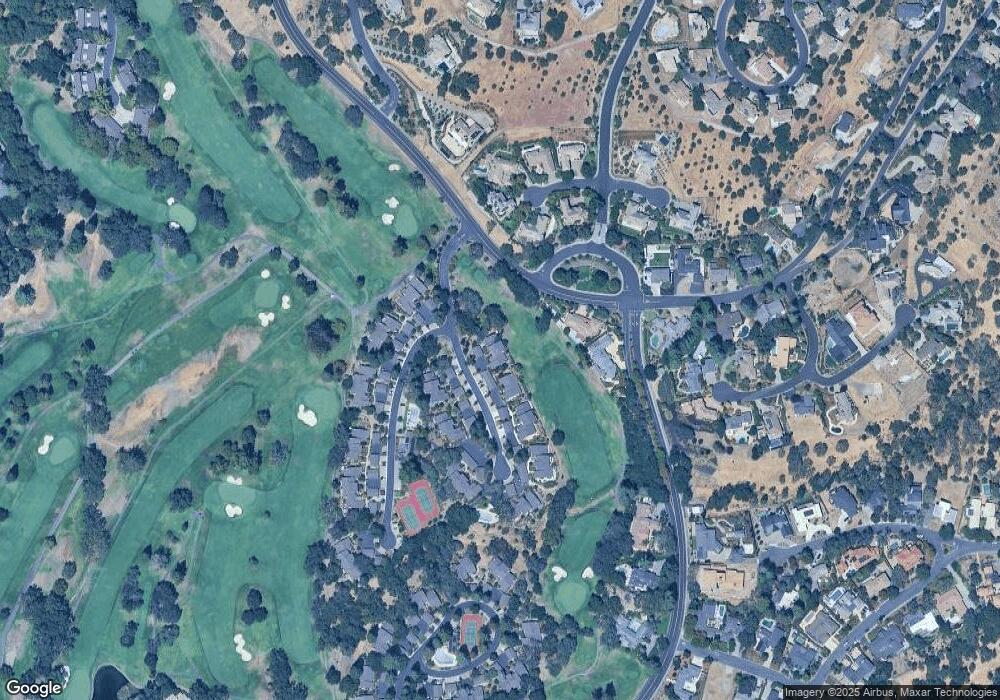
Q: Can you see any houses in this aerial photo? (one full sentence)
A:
Yes, the frame does contain a house.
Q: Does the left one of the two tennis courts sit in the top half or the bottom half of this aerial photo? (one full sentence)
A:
It is in the bottom half that the left one of the two tennis courts appears.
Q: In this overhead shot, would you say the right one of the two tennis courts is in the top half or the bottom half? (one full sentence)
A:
The bottom half of the photo is where the right one of the two tennis courts is.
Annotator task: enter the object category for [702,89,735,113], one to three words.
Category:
house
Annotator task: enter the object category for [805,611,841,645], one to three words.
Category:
house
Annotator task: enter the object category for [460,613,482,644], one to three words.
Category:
tennis court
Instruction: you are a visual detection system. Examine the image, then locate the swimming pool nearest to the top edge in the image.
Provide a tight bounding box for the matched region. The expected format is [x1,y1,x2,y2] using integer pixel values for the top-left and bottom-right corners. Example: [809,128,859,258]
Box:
[657,23,673,37]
